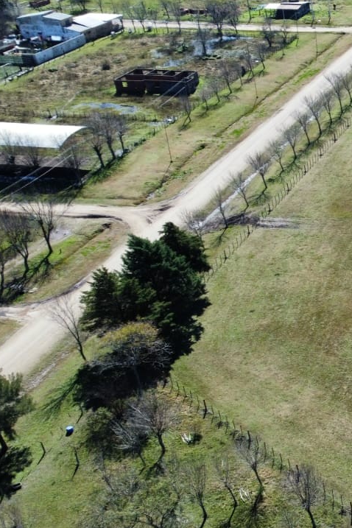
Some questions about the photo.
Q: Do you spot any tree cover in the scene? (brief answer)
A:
Yes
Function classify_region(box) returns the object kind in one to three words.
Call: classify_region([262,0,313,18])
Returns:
shed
